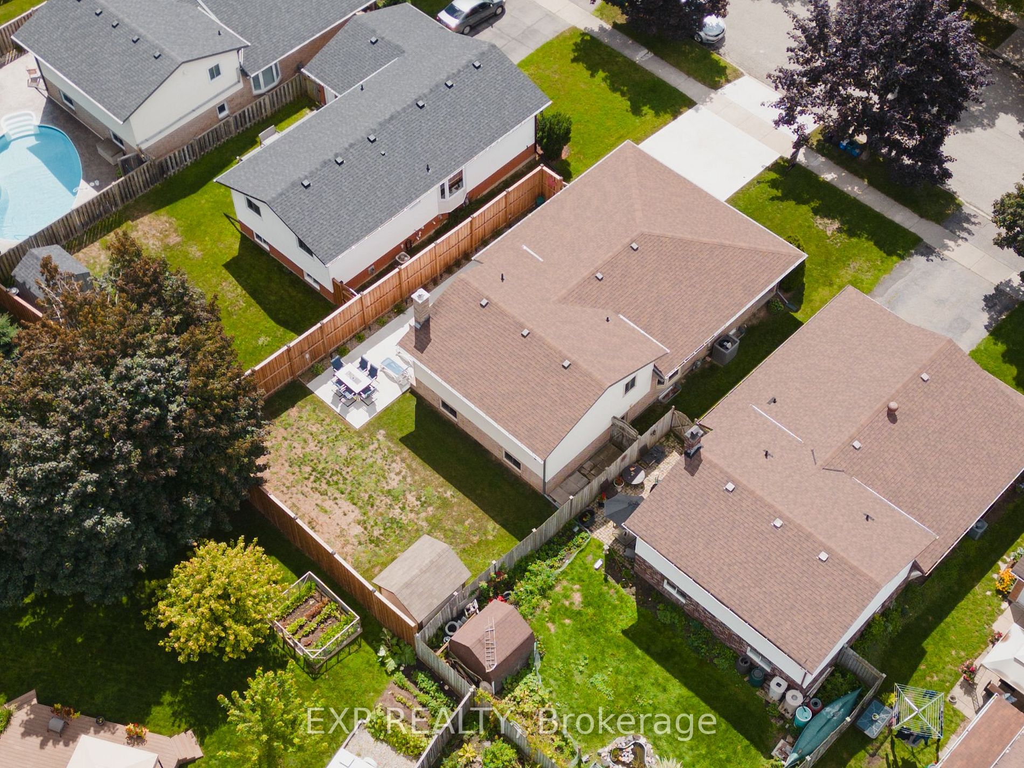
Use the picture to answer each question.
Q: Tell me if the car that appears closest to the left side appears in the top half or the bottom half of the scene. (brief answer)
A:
top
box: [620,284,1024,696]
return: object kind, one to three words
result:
house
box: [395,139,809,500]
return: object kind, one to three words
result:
house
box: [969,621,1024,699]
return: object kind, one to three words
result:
gazebo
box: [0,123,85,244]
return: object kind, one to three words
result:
swimming pool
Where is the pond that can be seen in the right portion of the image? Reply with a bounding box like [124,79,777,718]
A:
[592,726,661,768]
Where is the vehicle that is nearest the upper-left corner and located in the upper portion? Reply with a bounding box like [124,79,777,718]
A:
[435,0,503,32]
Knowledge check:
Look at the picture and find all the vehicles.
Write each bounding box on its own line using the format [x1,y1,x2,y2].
[681,9,724,40]
[435,0,503,32]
